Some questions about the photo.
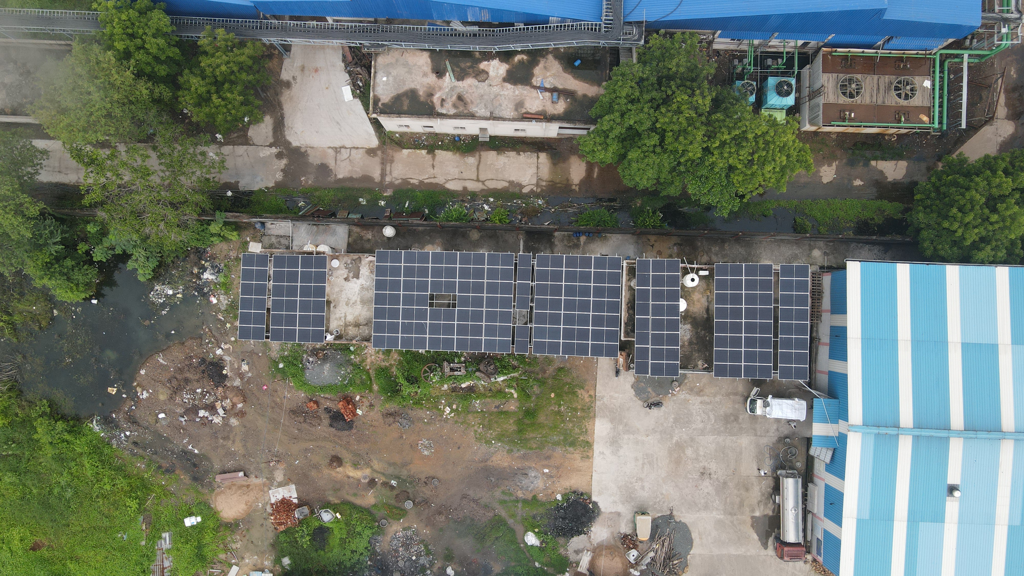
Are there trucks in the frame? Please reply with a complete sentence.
Yes, looking at the shot, I can spot a truck.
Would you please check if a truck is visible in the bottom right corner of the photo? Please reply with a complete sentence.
Yes, there is a truck in the bottom right corner of the photo.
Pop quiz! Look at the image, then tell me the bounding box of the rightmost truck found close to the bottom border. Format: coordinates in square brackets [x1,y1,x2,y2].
[766,464,804,566]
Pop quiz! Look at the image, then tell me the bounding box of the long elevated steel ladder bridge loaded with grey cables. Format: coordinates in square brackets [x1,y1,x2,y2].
[0,0,645,58]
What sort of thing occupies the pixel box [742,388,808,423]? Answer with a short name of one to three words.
truck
